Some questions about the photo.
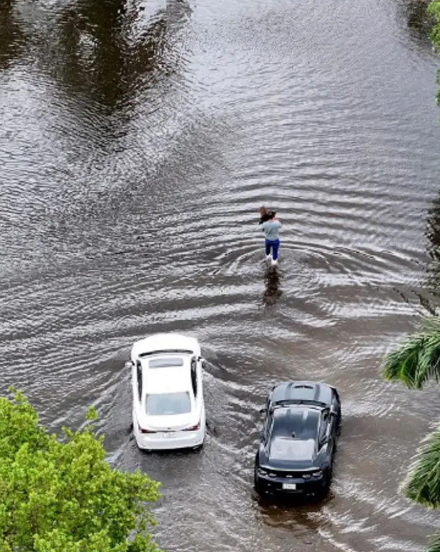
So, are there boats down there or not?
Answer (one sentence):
No, no boat is visible in the view.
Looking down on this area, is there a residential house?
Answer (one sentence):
No, I can see no residential house in this picture.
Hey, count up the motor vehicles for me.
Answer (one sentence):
Looking from above, you can make out 2 motor vehicles.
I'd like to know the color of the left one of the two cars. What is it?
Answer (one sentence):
The color of the left one of the two cars is white.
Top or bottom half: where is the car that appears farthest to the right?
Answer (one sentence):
The car that appears farthest to the right sits in the bottom half of the picture.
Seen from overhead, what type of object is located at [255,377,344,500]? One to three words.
car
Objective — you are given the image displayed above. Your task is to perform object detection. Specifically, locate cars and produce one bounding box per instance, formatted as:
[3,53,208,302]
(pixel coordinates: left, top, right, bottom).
[255,377,344,500]
[125,328,204,446]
